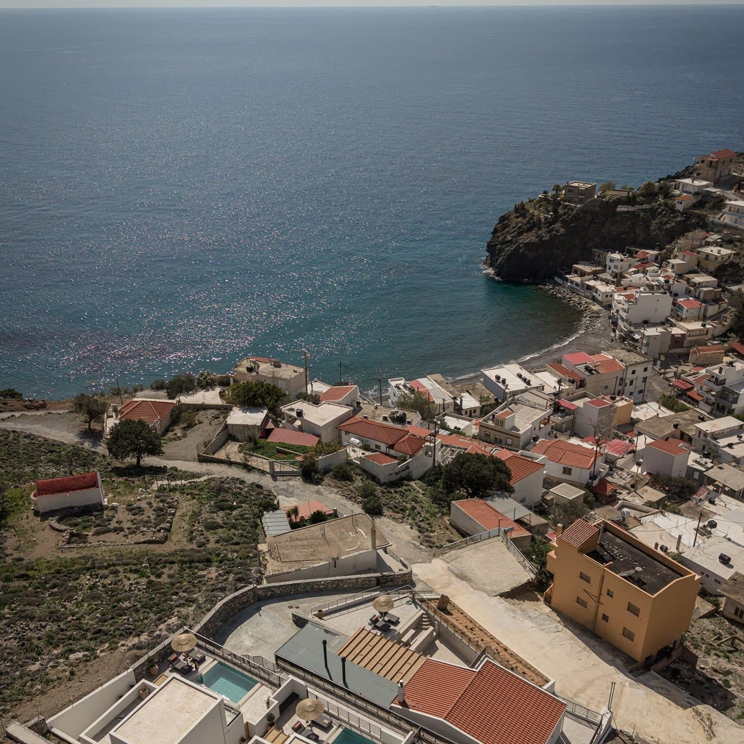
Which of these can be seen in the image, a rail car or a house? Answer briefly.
house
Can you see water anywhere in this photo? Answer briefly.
Yes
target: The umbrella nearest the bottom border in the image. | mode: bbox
[296,696,326,728]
